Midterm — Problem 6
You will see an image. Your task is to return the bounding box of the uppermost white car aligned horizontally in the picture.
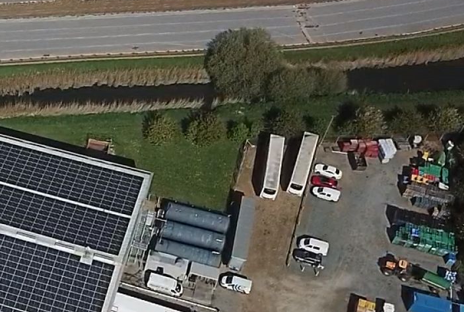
[313,164,341,180]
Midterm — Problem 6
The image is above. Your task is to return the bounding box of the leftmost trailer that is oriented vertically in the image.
[228,193,258,267]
